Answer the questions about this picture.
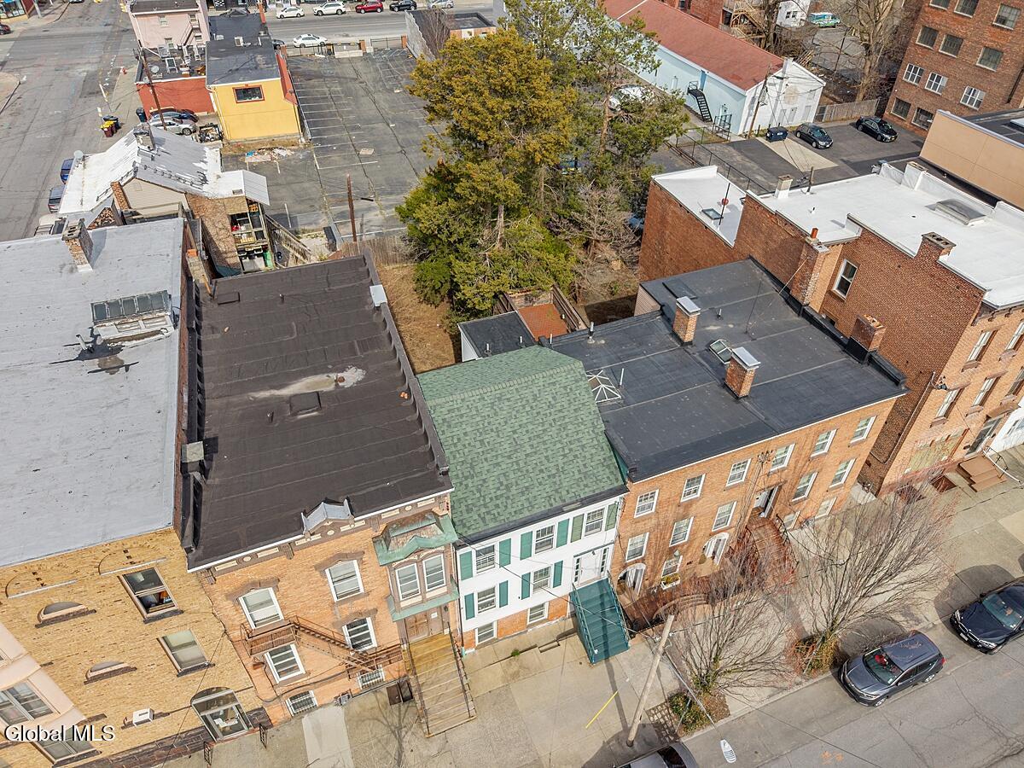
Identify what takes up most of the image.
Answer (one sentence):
The bulk of the photo consists of buildings.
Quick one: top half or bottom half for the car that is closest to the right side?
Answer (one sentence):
The car that is closest to the right side sits in the bottom half of the picture.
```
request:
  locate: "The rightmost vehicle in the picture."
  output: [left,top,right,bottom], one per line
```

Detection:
[941,580,1024,661]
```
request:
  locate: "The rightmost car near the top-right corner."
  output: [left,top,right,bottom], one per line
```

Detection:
[849,118,897,142]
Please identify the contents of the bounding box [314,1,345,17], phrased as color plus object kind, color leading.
white car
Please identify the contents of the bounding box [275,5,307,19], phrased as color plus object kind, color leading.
white car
